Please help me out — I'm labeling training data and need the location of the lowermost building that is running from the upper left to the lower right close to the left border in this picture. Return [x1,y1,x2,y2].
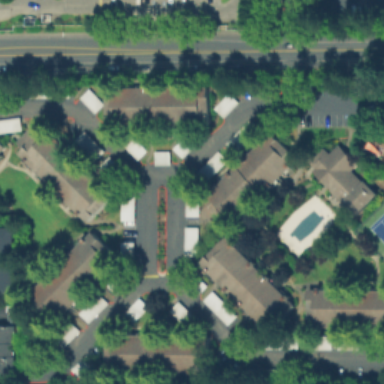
[16,132,102,222]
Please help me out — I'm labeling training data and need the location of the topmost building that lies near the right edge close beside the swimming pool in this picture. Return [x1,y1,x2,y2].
[308,142,372,212]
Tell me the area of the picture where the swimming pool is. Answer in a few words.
right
